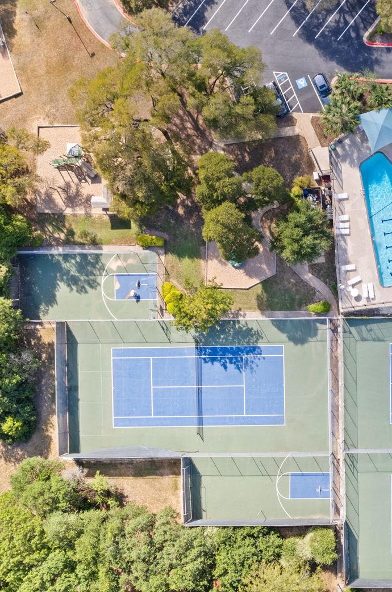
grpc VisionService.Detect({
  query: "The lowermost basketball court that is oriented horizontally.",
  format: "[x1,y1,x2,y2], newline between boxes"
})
[190,453,335,521]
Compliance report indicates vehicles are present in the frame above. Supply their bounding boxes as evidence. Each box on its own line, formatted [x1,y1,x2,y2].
[312,73,335,108]
[266,79,293,117]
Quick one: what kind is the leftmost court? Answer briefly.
basketball court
